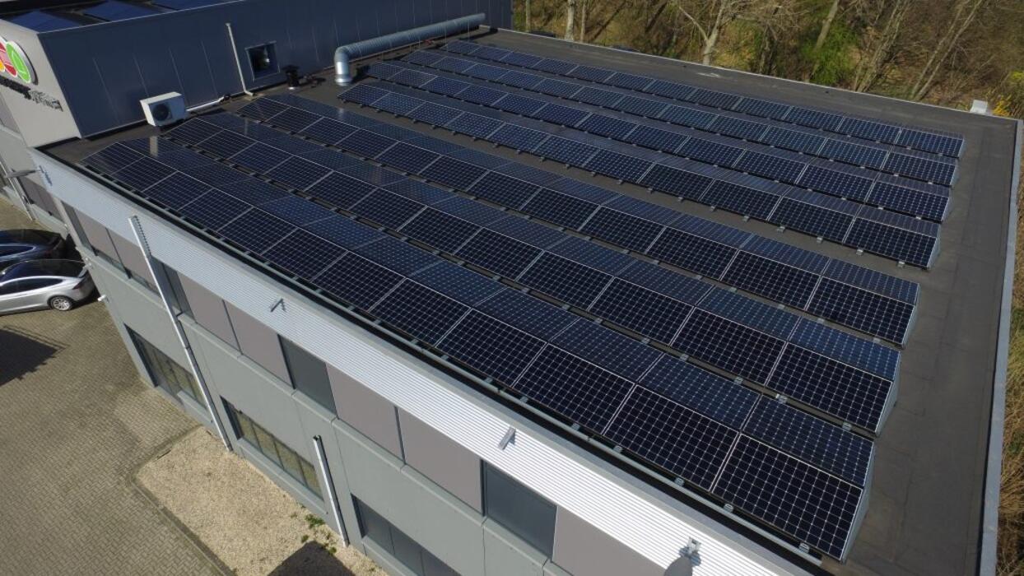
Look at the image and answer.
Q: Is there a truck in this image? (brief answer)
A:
No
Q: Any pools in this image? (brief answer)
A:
No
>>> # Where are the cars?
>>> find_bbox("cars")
[0,227,71,266]
[0,259,95,315]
